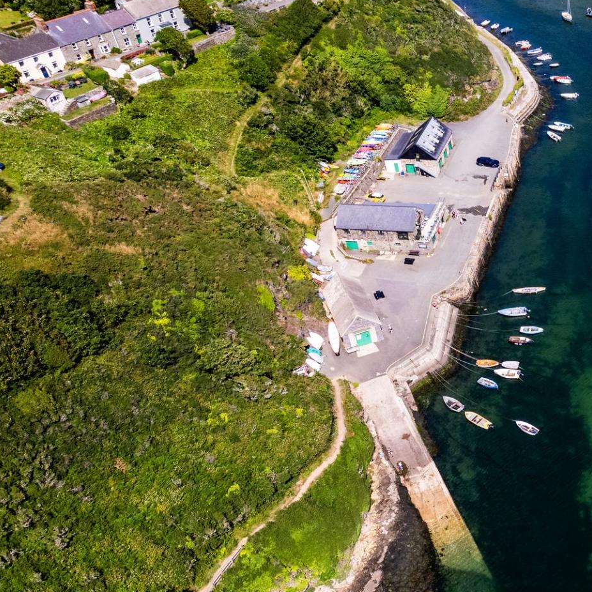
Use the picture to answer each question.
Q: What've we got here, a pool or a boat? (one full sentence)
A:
Looking from above, you can make out a boat.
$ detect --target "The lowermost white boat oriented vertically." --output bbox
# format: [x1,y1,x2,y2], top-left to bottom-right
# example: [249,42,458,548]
[326,318,342,358]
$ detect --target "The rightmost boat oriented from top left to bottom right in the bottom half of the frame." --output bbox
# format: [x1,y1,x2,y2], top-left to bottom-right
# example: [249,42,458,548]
[515,420,539,438]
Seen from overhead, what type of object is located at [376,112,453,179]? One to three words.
shed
